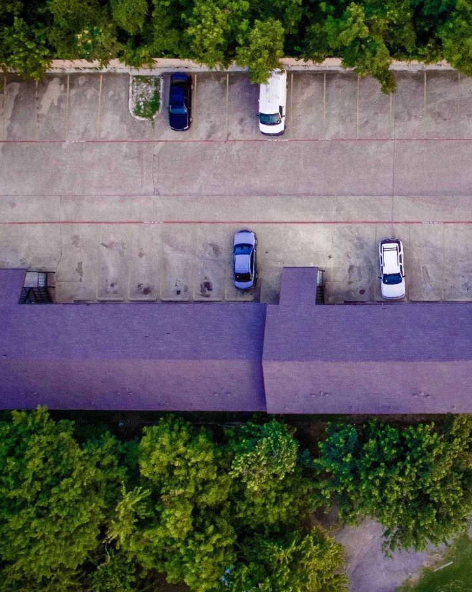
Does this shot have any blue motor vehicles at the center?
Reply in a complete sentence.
Yes, you'll find a blue motor vehicle at the center.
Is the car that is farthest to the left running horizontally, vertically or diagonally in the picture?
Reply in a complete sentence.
I'd say the car that is farthest to the left is aligned vertically in the picture.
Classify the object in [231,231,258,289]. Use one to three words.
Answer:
car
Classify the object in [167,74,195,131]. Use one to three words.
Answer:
car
